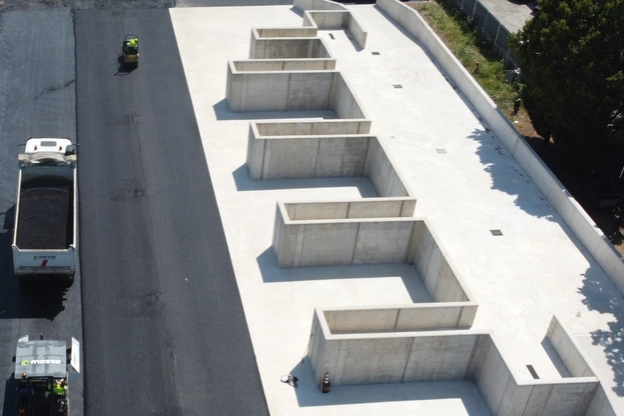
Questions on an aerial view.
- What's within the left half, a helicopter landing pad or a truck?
truck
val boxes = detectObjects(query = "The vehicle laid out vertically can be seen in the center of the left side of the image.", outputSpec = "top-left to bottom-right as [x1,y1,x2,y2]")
[11,135,83,287]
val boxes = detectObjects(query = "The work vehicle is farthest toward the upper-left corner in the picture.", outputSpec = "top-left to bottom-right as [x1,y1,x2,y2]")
[117,25,139,68]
